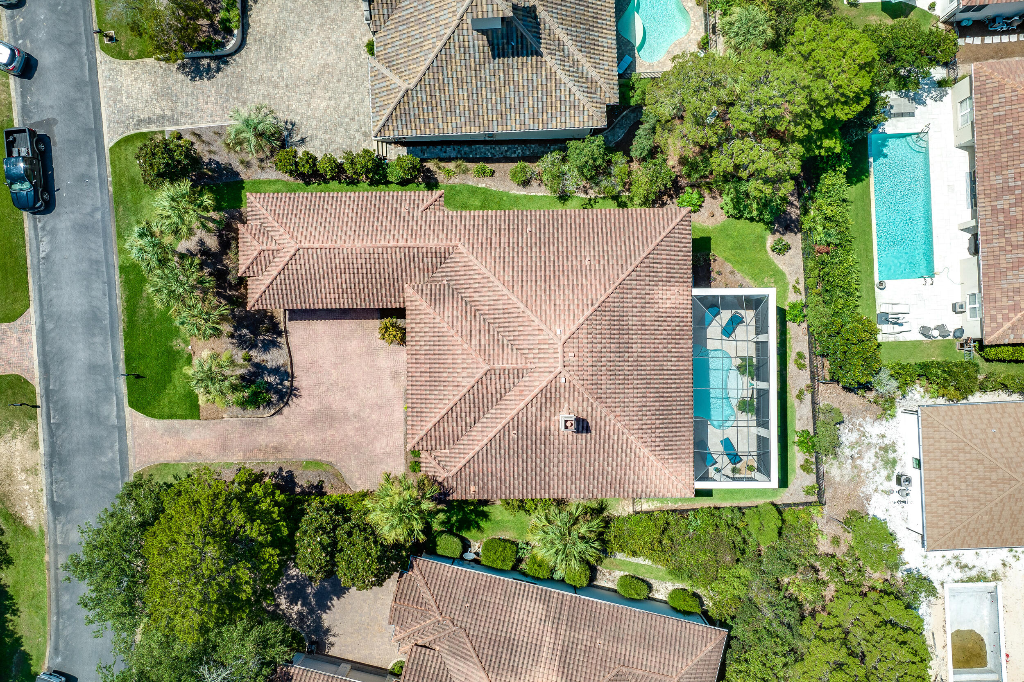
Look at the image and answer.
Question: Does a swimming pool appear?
Yes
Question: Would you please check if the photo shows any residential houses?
Yes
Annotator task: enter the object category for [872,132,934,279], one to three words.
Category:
swimming pool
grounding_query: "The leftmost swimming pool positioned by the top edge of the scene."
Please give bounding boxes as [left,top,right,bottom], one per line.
[619,0,691,60]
